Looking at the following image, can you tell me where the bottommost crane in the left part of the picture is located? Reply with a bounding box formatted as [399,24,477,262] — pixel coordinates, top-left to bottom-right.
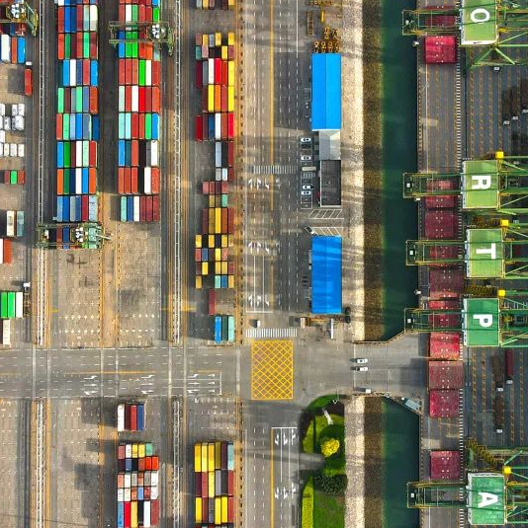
[39,222,117,250]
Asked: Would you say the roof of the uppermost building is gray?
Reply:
No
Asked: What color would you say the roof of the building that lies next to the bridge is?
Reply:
blue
